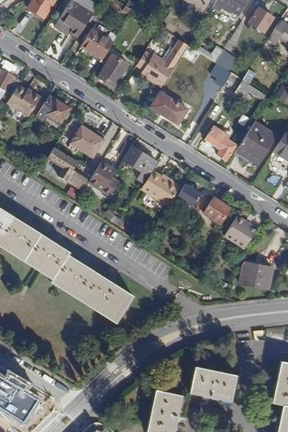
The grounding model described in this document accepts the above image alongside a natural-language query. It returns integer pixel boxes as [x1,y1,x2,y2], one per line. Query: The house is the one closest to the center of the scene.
[140,172,178,204]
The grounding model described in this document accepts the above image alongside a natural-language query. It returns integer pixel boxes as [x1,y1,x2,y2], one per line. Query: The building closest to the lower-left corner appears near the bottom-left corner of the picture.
[0,370,44,422]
